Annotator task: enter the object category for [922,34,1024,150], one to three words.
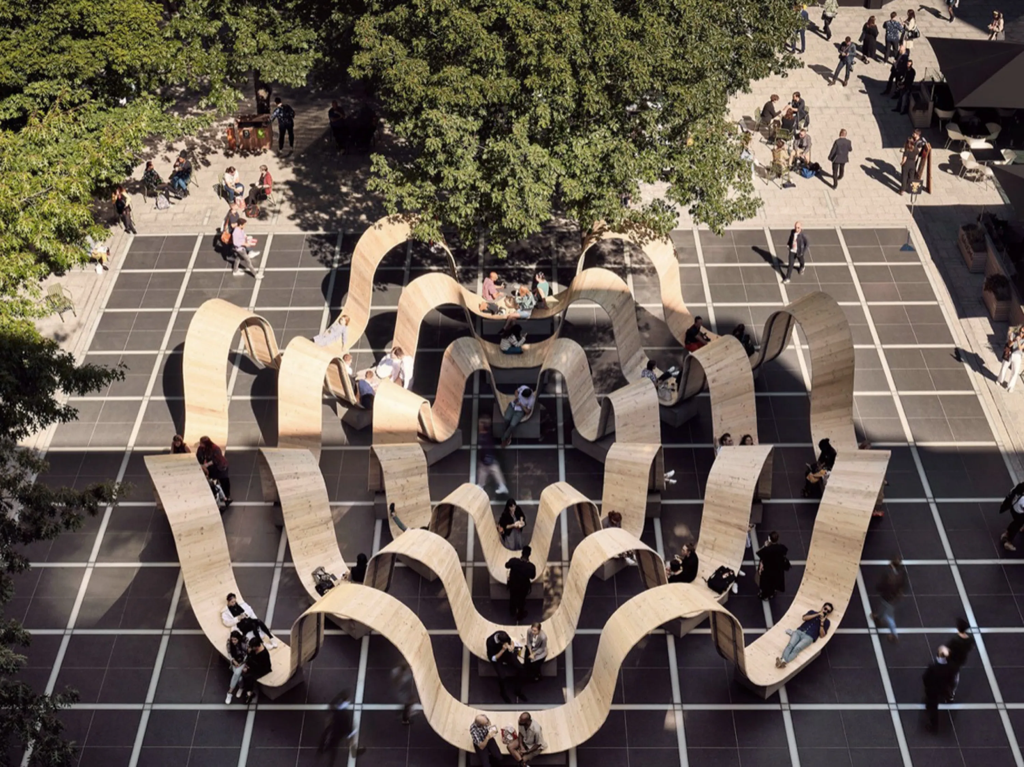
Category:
umbrella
